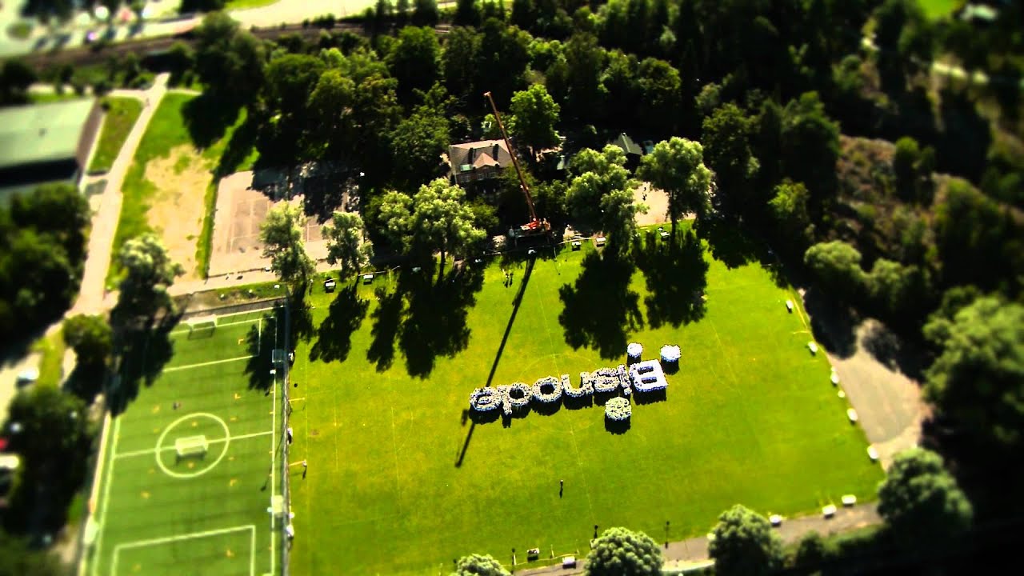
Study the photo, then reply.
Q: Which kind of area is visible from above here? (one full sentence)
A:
This image shows a sports ground.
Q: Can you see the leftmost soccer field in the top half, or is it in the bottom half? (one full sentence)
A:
You can find the leftmost soccer field in the bottom half.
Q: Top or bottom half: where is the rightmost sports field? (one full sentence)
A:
The bottom half of the photo is where the rightmost sports field is.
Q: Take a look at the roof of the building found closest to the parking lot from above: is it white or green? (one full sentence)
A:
The roof of the building found closest to the parking lot looks green in the image.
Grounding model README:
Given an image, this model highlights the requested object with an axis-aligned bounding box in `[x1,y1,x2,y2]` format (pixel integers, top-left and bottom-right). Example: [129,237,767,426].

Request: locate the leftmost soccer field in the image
[80,305,283,576]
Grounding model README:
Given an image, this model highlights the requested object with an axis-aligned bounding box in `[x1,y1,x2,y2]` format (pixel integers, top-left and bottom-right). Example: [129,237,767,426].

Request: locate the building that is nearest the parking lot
[0,97,111,213]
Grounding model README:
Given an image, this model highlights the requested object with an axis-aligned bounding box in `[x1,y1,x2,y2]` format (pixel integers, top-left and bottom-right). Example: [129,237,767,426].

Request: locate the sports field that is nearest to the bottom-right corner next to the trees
[284,237,879,576]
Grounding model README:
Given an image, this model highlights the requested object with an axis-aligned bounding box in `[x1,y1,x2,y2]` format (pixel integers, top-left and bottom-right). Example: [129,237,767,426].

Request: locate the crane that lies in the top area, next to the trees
[479,90,560,247]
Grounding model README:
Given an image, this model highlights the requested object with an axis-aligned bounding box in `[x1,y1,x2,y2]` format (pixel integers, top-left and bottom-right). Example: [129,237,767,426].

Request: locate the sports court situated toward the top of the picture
[207,158,370,277]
